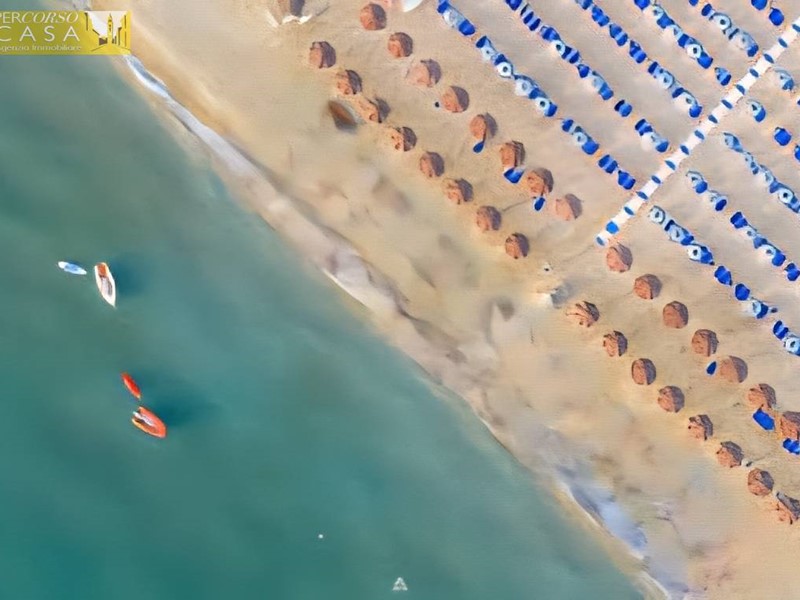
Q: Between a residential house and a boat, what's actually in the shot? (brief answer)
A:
boat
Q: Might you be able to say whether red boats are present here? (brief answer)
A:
Yes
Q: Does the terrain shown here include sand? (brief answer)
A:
Yes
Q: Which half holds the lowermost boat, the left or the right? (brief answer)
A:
left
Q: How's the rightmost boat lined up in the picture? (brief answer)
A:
on a diagonal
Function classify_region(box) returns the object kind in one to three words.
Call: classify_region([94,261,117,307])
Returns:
boat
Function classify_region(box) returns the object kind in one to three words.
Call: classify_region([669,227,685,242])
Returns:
umbrella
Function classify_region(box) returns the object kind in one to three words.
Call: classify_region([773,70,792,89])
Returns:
umbrella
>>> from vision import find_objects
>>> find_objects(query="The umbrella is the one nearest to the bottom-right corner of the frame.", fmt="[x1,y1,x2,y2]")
[774,498,798,522]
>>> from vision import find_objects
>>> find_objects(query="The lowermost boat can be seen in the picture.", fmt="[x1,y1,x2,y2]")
[132,408,169,439]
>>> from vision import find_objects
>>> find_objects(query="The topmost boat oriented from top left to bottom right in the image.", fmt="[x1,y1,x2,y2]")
[330,101,356,129]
